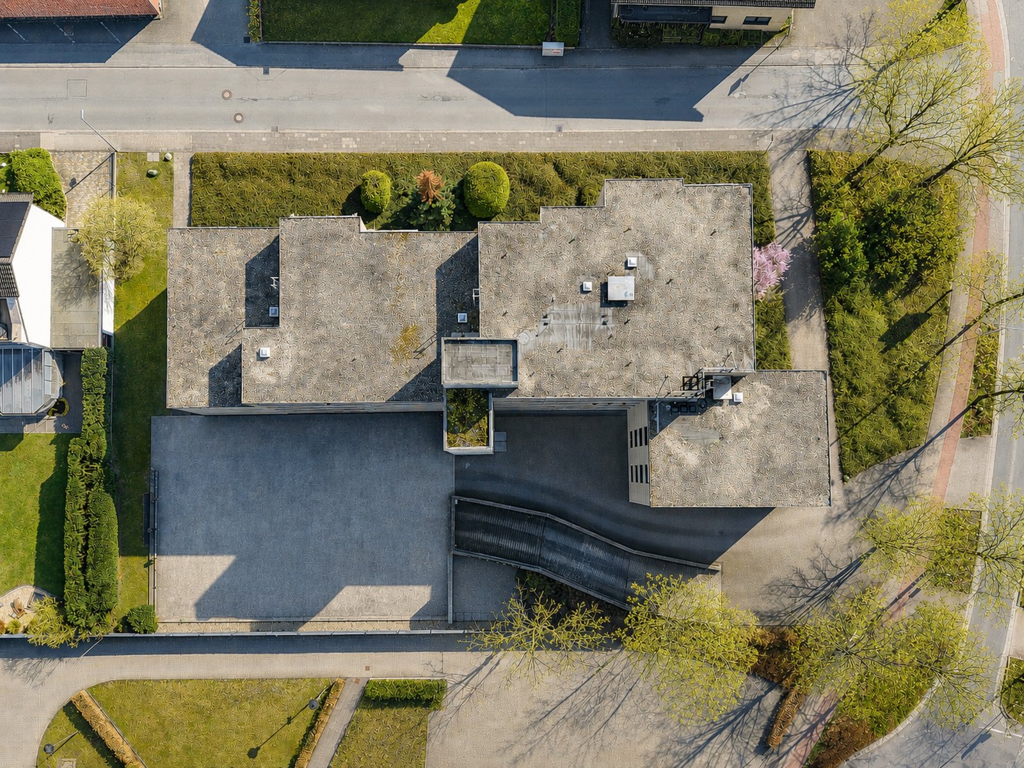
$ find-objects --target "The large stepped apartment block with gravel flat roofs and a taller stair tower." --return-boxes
[166,178,831,507]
